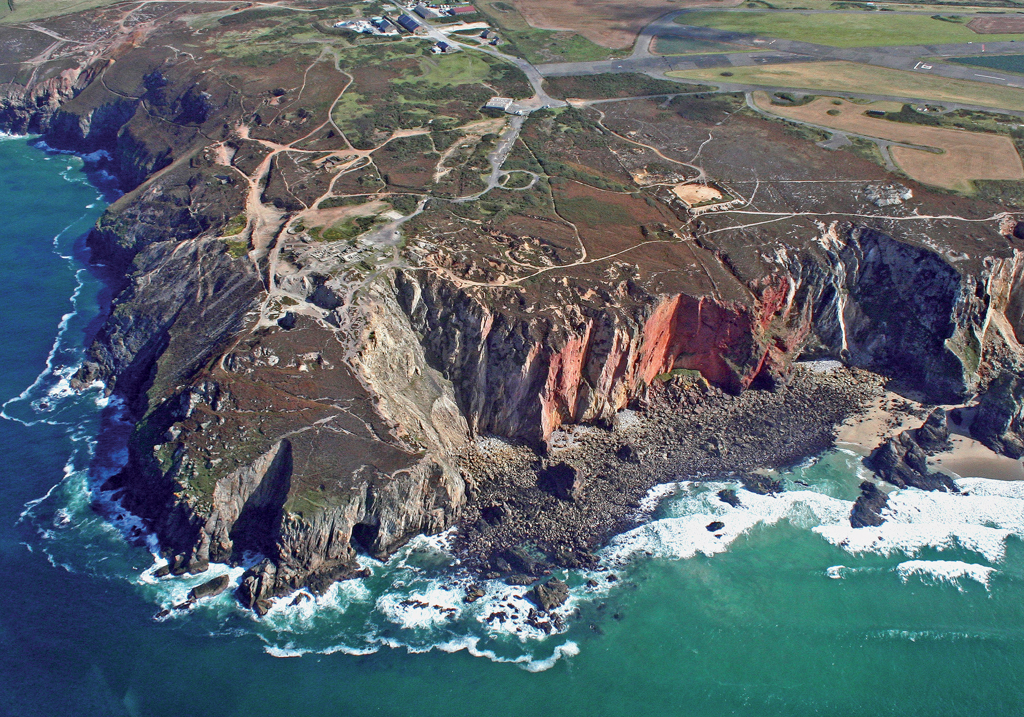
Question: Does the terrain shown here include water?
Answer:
Yes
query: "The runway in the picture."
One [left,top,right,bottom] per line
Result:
[534,7,1024,117]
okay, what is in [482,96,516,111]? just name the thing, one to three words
hangar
